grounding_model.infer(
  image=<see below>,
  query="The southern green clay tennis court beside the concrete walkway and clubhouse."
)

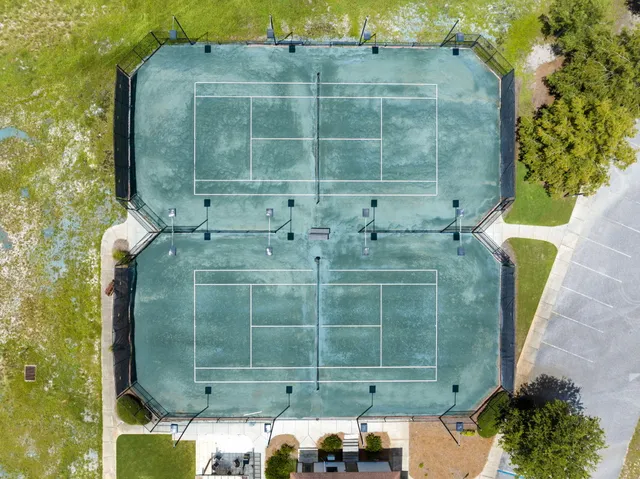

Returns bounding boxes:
[129,232,501,420]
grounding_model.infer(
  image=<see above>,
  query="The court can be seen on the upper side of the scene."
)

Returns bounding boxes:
[129,44,501,232]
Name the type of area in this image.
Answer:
sports ground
